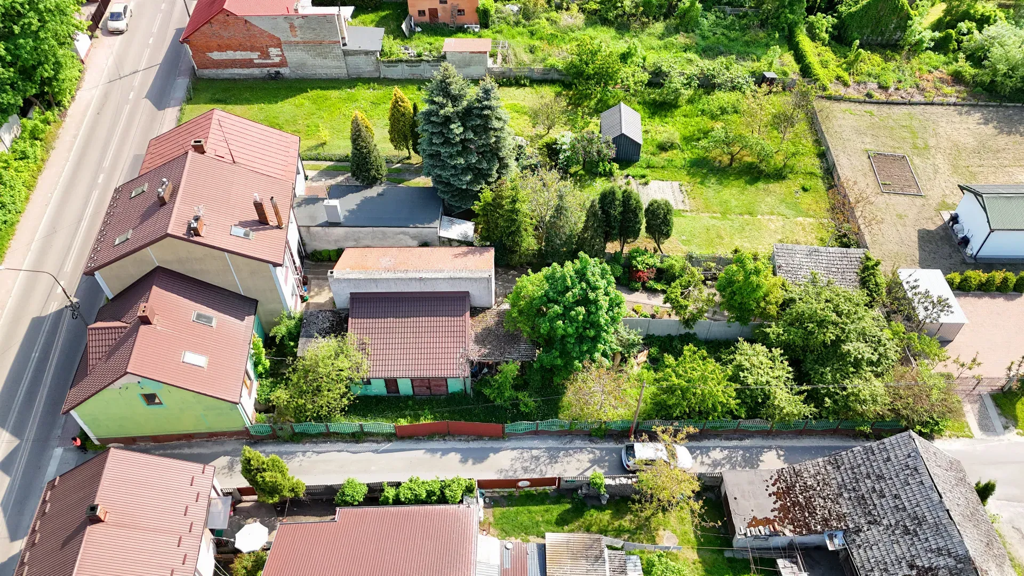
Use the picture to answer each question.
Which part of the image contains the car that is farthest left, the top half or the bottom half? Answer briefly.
top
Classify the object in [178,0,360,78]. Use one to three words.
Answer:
house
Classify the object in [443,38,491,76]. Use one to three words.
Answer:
shed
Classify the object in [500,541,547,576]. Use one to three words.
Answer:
shed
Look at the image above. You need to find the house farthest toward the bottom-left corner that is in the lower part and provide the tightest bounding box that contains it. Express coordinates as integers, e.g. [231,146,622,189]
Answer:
[13,446,224,576]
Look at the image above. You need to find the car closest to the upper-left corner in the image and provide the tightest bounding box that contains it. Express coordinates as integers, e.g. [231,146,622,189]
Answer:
[104,8,128,32]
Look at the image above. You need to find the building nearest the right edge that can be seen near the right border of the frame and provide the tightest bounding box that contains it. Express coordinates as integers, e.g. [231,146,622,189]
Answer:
[949,181,1024,260]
